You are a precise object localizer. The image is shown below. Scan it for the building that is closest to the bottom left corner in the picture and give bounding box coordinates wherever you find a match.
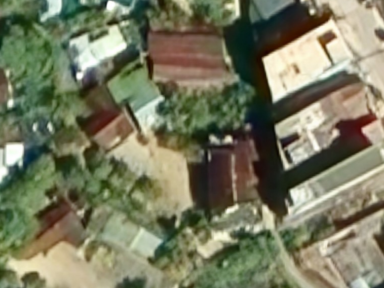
[23,198,85,259]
